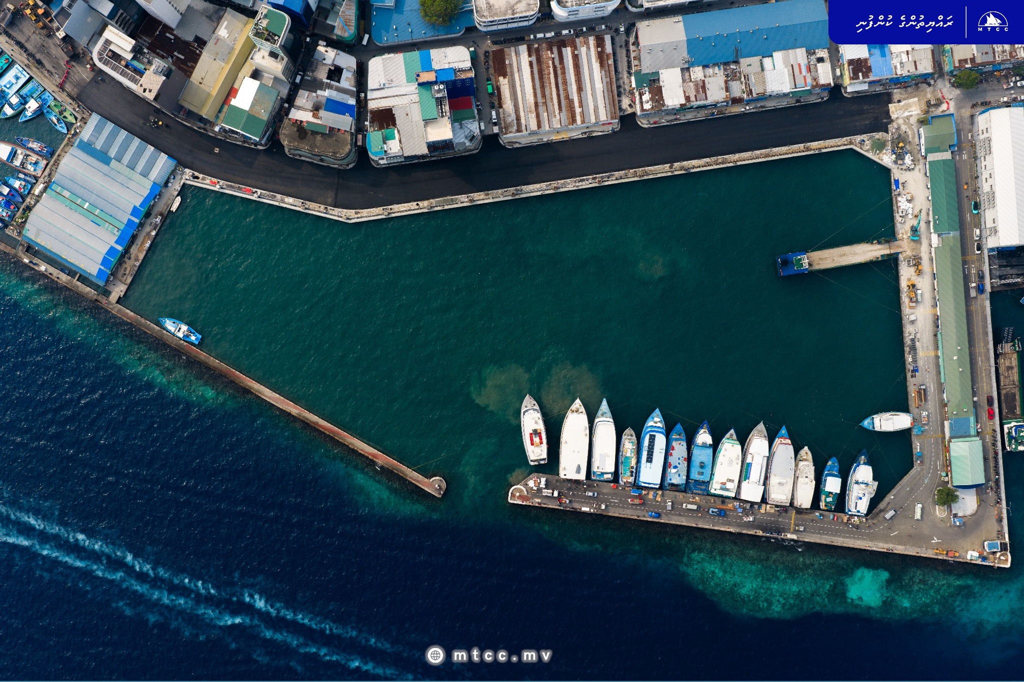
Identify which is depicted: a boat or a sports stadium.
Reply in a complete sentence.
The image shows a boat.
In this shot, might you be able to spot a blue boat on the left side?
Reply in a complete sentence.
Yes, there is a blue boat on the left side.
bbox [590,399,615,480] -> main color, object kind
white boat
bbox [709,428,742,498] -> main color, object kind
white boat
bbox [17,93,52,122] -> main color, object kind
blue boat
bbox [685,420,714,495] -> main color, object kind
blue boat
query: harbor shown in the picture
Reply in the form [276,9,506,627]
[0,43,894,296]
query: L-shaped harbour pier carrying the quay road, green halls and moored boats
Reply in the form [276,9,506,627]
[508,114,1013,567]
